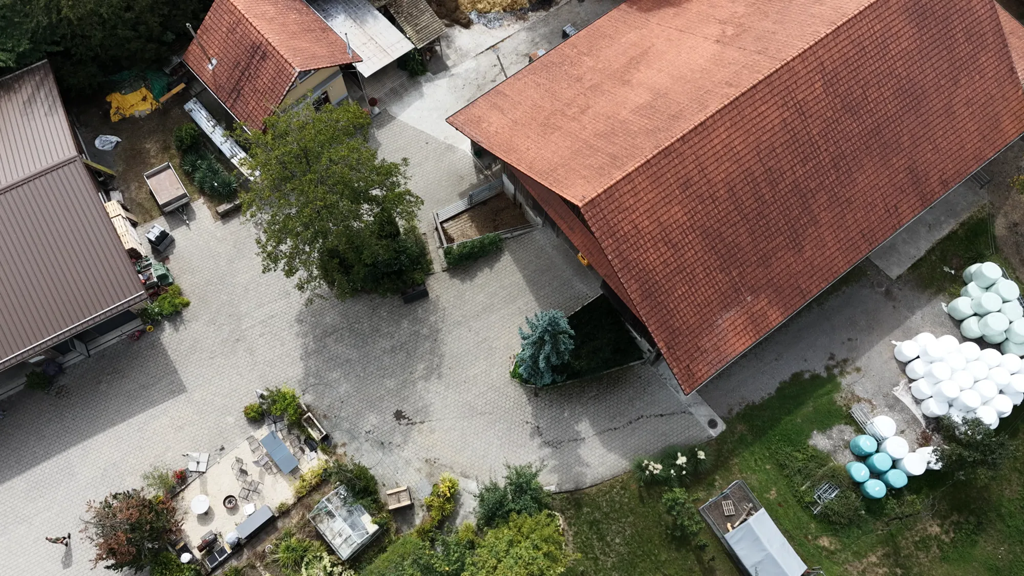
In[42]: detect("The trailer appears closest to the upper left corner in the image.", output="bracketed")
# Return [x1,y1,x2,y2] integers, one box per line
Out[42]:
[151,159,197,229]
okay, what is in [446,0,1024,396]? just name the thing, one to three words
barn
